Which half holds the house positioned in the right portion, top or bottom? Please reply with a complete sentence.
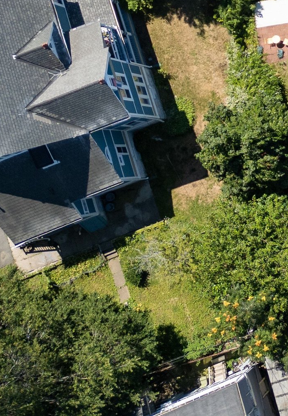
You can find the house positioned in the right portion in the bottom half.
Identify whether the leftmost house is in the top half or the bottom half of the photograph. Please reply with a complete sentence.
The leftmost house is in the top half of the image.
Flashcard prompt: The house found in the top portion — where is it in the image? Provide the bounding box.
[0,0,163,247]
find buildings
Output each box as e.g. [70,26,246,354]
[145,361,271,416]
[0,0,163,247]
